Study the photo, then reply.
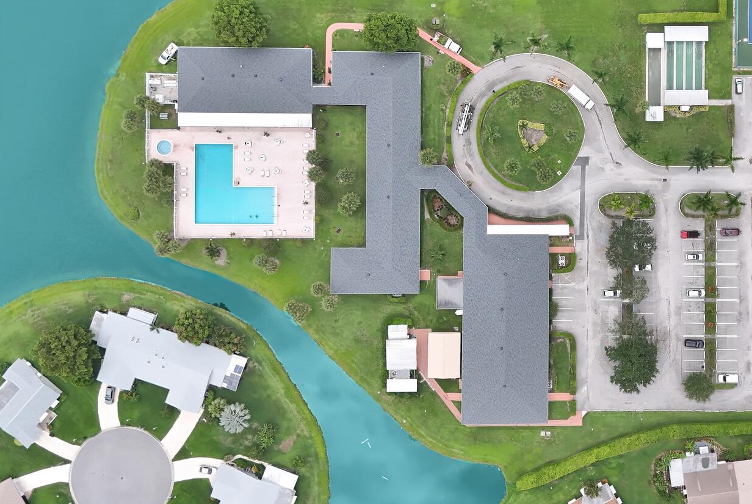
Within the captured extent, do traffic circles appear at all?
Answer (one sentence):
Yes, this view includes a traffic circle.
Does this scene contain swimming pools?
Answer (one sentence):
Yes, there is a swimming pool in the image.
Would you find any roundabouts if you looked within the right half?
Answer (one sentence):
Yes, a roundabout can be seen within the right half.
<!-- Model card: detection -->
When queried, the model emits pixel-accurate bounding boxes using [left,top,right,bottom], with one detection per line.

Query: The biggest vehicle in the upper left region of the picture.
[159,42,177,64]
